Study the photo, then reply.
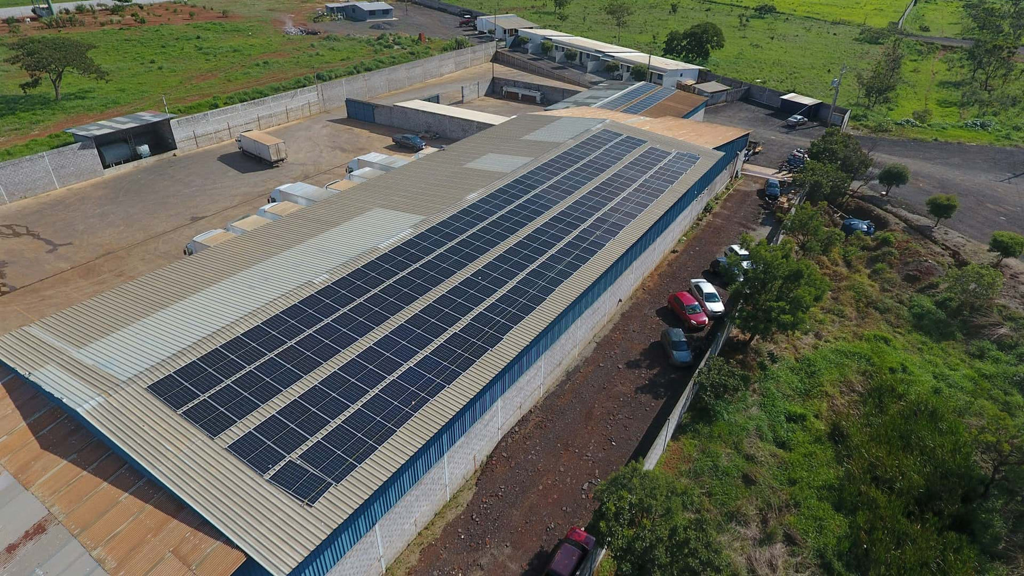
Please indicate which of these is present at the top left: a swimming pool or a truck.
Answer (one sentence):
There is a truck at the top left.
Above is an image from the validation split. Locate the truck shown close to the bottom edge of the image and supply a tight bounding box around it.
[523,518,600,576]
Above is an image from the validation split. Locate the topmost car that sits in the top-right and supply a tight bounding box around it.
[784,115,810,129]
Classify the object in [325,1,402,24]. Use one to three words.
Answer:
house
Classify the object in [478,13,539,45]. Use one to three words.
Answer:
barn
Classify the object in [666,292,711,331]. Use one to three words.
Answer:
car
